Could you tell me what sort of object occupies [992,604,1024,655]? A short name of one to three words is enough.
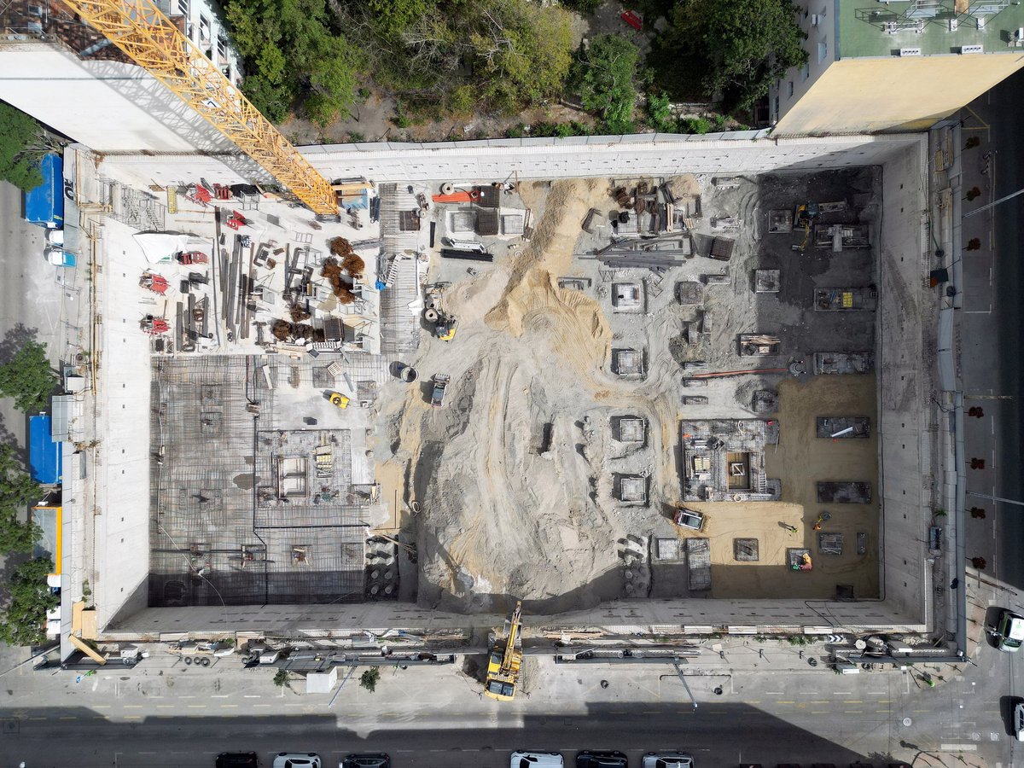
car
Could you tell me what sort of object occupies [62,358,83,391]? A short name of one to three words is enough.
building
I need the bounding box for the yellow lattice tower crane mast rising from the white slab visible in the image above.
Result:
[66,0,339,222]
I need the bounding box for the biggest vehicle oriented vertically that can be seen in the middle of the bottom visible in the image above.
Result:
[487,599,525,706]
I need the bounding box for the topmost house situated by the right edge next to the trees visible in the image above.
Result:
[768,0,1024,137]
